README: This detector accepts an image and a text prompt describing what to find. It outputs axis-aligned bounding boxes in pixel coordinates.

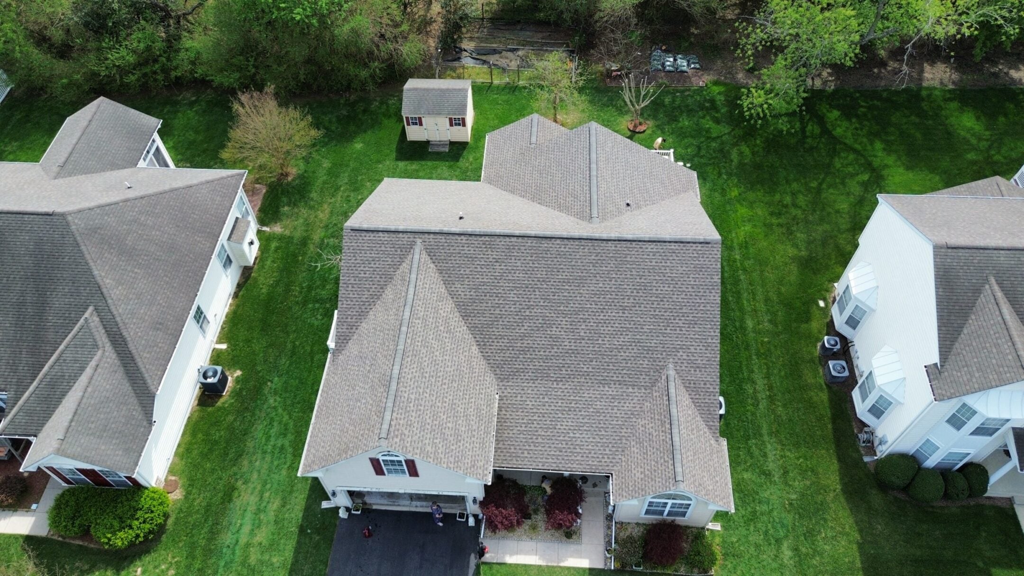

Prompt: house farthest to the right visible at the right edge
[826,175,1024,511]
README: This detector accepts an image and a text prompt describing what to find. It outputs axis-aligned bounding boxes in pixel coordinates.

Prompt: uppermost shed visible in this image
[402,76,473,150]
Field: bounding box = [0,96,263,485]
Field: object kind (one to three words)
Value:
house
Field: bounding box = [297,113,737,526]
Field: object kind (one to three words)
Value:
house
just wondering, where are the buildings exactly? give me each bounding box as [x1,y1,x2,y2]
[0,96,263,485]
[826,175,1024,511]
[402,76,473,150]
[297,113,737,526]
